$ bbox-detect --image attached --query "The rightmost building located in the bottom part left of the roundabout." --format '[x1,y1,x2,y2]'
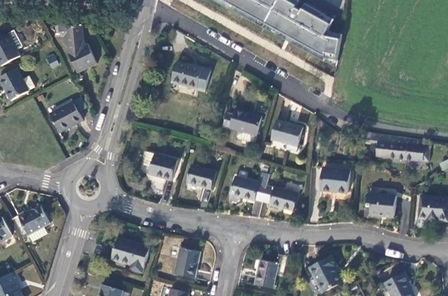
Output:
[19,202,52,241]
